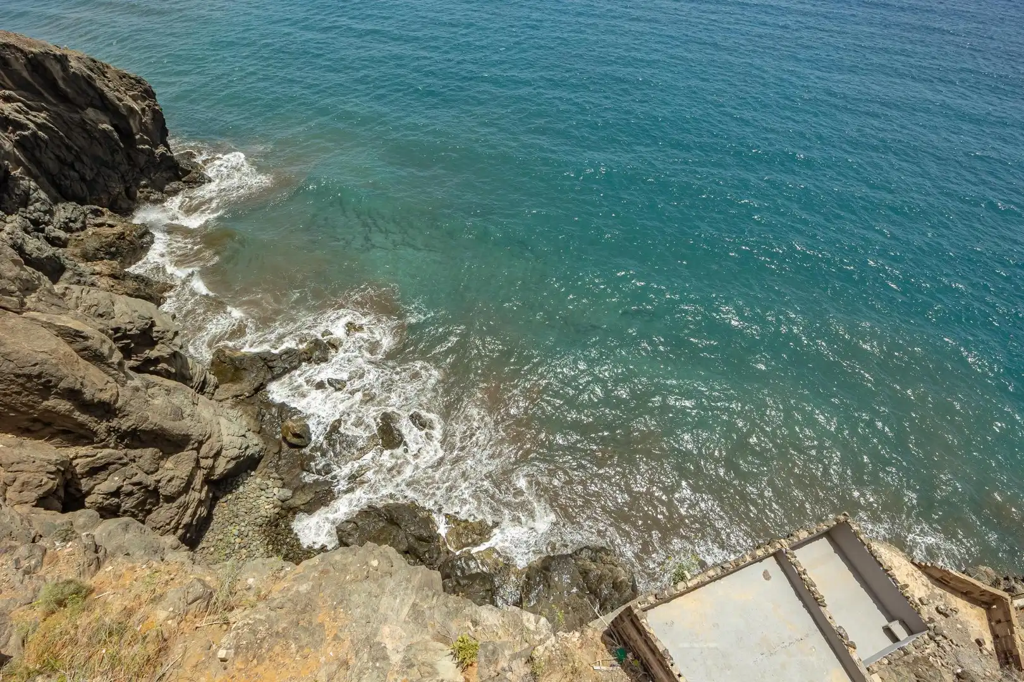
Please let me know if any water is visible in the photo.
Yes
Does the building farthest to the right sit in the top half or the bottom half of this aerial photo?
bottom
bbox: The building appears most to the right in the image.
[615,518,936,682]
